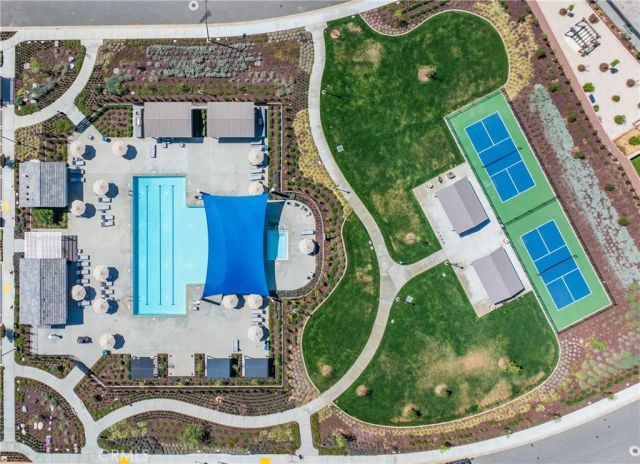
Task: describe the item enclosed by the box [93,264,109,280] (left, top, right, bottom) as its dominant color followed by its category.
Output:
white umbrella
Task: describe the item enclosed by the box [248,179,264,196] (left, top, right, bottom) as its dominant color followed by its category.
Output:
white umbrella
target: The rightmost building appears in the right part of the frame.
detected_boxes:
[468,246,526,306]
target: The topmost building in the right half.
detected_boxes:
[432,176,489,236]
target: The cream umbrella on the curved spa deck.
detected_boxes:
[298,238,314,255]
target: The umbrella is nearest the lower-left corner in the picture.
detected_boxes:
[99,333,116,349]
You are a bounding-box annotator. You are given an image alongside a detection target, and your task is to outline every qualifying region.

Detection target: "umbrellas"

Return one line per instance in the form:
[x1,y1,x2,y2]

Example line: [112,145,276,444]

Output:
[71,140,87,156]
[94,179,109,195]
[246,293,262,310]
[222,293,238,309]
[248,149,264,165]
[298,238,314,255]
[93,264,109,280]
[99,333,116,349]
[93,298,109,315]
[248,326,264,342]
[71,284,88,300]
[113,141,129,156]
[70,200,86,216]
[248,179,264,196]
